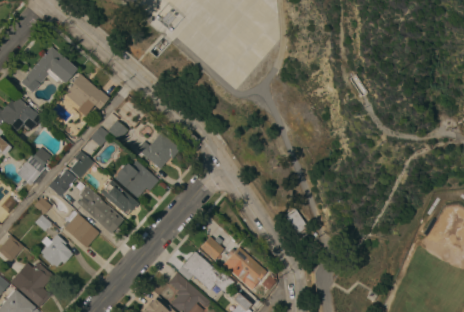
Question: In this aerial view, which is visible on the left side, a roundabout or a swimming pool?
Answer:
swimming pool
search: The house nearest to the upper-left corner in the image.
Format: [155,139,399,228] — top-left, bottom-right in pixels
[22,46,77,91]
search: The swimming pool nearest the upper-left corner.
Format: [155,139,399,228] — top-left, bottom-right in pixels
[34,84,56,100]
